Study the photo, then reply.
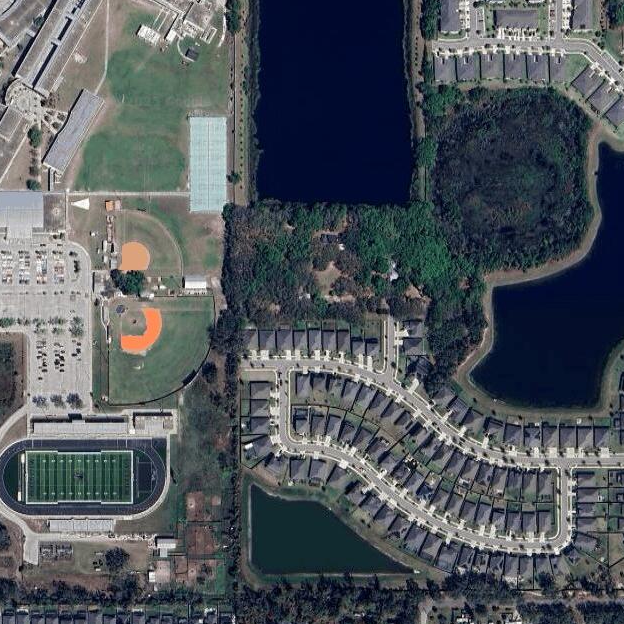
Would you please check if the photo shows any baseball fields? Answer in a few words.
Yes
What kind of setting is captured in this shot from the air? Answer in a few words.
residential area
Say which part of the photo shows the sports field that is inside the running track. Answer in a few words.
bottom left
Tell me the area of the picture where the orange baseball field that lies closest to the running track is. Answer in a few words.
left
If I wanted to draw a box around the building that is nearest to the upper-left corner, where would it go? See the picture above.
[0,0,44,45]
